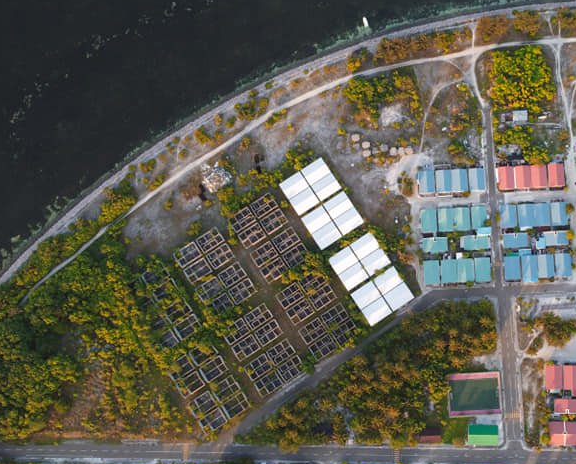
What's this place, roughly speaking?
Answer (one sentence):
What you see here is a residential area.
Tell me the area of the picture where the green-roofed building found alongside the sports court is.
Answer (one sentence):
Look in the bottom right portion of the view to spot the green-roofed building found alongside the sports court.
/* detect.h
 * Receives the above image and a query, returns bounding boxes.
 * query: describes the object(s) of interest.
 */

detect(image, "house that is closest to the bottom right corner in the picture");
[549,421,576,446]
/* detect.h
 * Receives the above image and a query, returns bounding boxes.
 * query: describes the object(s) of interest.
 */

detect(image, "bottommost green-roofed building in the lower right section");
[467,424,498,446]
